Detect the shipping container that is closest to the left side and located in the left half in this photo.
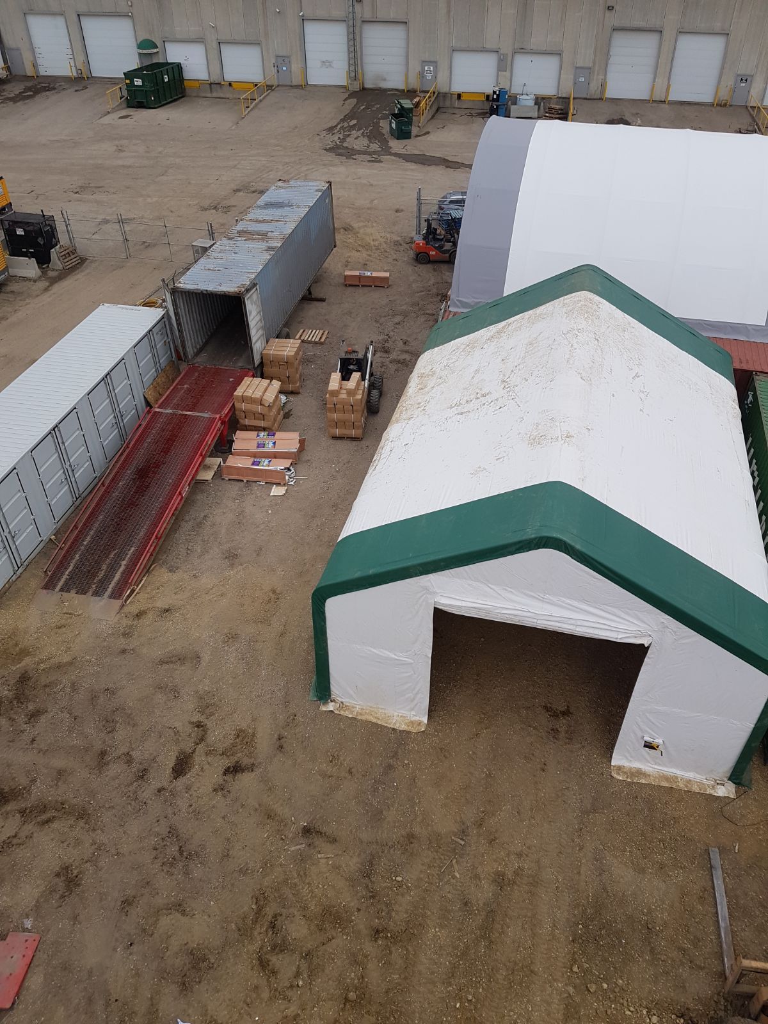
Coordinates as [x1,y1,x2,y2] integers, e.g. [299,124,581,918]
[0,302,174,585]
